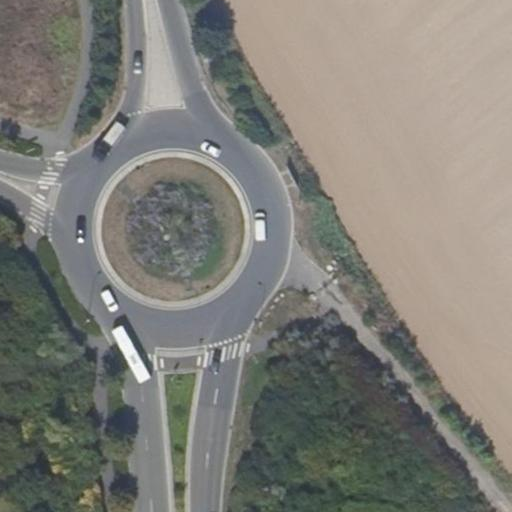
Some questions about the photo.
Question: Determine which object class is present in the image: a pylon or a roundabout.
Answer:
roundabout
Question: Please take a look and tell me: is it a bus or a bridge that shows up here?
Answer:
bus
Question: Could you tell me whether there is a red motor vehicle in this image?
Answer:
No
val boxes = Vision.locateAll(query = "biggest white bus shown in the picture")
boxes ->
[112,325,152,386]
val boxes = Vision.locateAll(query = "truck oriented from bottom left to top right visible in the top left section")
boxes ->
[94,120,124,156]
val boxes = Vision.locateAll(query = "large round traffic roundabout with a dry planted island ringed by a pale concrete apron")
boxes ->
[52,109,292,350]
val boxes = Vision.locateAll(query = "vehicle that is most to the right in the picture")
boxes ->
[254,212,266,241]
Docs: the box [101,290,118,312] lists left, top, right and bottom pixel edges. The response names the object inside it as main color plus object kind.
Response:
white car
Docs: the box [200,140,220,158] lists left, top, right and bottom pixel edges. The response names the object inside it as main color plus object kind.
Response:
white car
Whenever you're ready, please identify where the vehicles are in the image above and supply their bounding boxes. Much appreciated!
[200,140,220,158]
[254,212,266,241]
[212,352,222,374]
[101,290,118,312]
[112,325,152,386]
[94,120,124,156]
[132,54,143,75]
[76,221,86,243]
